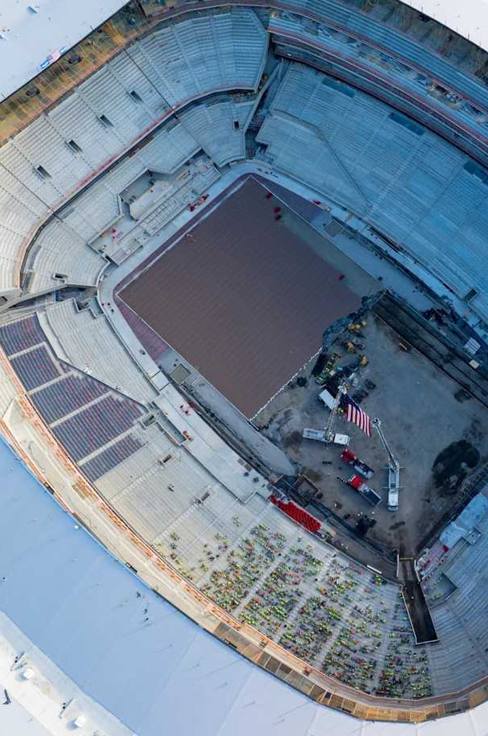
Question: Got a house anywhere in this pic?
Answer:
No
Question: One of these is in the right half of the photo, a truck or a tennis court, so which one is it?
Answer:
truck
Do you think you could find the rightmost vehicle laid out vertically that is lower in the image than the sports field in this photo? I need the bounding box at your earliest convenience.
[372,417,405,510]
